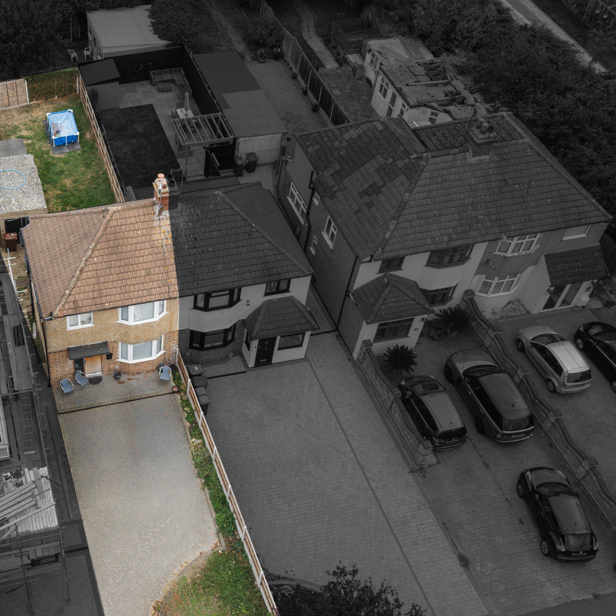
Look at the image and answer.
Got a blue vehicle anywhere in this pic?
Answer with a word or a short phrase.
No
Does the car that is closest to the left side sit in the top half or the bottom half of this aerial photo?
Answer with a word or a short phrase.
bottom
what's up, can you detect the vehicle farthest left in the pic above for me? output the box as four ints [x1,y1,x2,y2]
[400,363,472,446]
